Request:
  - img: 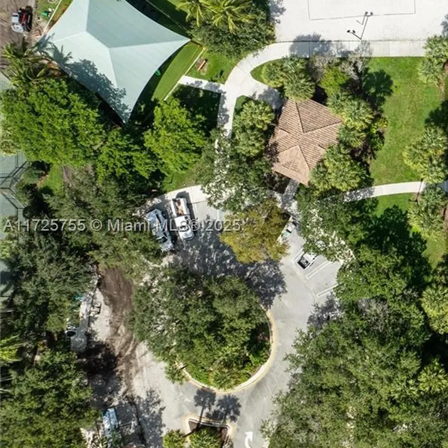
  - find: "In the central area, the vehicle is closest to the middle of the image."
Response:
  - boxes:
[169,198,196,240]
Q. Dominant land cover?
trees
